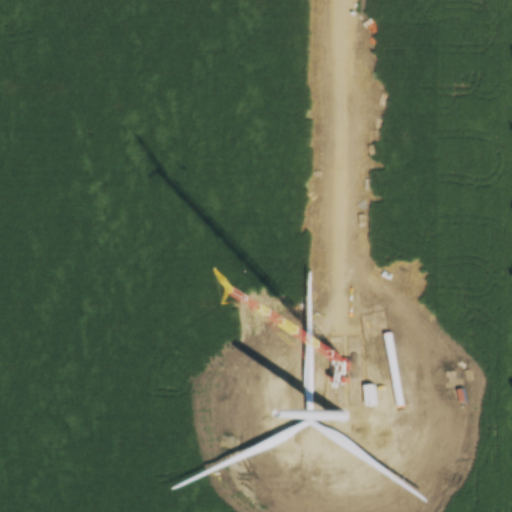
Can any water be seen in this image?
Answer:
No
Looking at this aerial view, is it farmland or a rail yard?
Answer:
farmland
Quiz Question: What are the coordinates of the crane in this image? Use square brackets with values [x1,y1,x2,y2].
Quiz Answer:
[212,265,352,388]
